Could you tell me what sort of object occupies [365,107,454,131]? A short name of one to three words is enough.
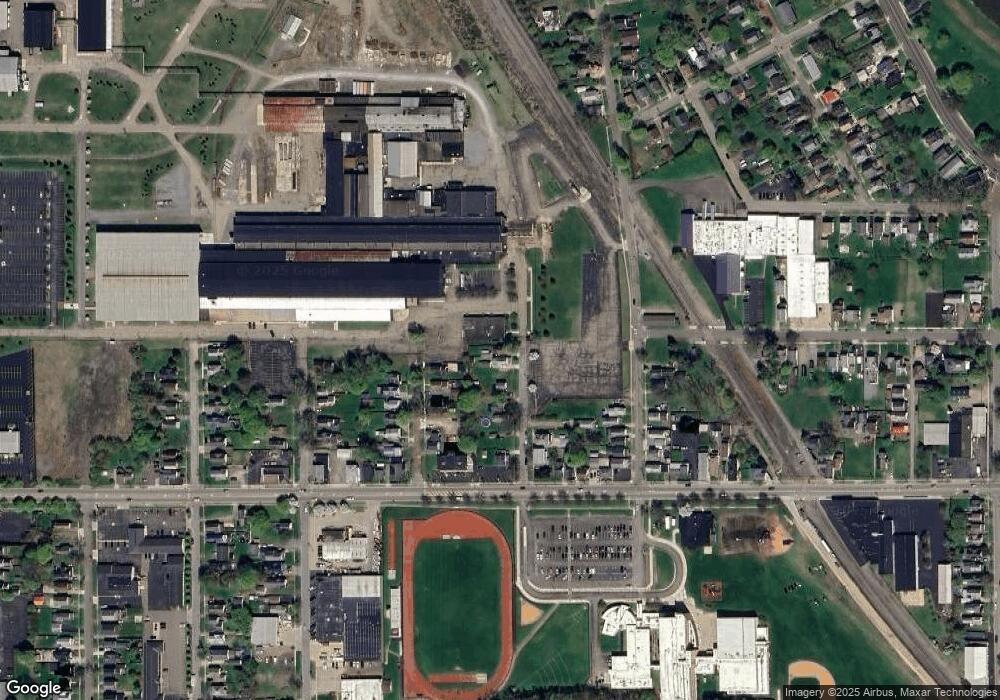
building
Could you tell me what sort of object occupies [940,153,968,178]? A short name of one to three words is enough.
house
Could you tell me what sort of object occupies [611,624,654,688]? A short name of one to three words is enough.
building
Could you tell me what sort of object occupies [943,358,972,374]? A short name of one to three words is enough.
house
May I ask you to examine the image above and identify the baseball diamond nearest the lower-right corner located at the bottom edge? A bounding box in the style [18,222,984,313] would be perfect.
[784,660,836,700]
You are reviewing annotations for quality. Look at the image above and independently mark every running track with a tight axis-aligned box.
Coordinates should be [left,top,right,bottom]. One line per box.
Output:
[402,511,513,700]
